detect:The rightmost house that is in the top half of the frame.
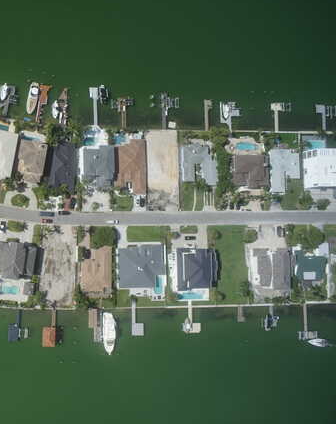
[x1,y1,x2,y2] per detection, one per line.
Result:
[300,148,336,188]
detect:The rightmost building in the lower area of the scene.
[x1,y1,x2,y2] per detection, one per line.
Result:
[294,250,327,289]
